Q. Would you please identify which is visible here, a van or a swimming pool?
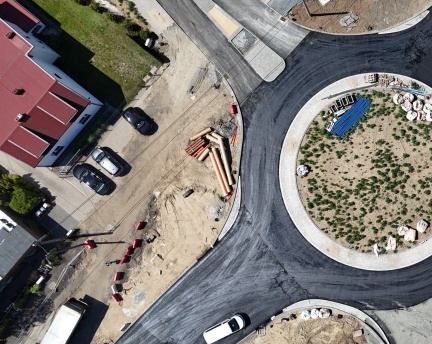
van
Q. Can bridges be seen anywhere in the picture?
No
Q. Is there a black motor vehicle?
Yes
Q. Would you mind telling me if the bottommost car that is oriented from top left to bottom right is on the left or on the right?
left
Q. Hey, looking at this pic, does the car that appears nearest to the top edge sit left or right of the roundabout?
left of it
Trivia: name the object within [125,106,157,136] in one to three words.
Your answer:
car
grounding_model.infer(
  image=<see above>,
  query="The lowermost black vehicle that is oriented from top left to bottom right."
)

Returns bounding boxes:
[77,163,112,194]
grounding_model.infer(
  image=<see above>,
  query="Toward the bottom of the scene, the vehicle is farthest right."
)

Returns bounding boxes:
[202,314,245,343]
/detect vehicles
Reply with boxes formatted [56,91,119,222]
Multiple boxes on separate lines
[77,163,112,194]
[202,314,245,343]
[41,299,92,344]
[91,147,126,176]
[125,106,157,136]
